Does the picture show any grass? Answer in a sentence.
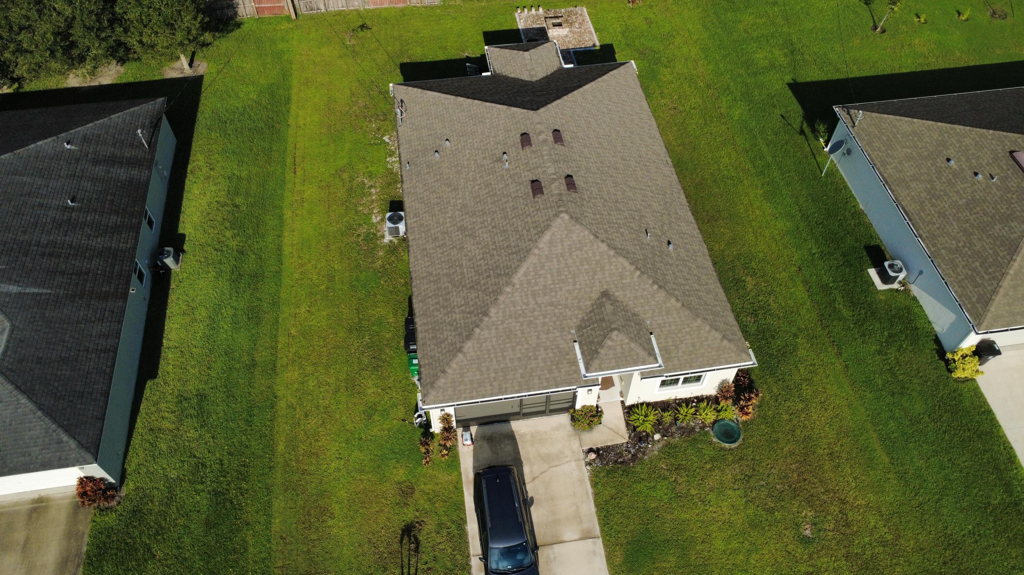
Yes, grass shows up in the scene.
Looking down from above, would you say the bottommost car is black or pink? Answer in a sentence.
The color of the bottommost car is black.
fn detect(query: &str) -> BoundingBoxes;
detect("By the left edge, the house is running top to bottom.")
[0,96,177,503]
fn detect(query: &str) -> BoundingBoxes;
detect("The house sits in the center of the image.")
[389,39,759,433]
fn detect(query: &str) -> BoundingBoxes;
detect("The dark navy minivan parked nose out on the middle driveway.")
[472,464,539,575]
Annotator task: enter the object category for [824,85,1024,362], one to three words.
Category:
house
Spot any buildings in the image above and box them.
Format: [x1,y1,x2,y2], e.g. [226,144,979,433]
[389,39,759,433]
[824,85,1024,362]
[0,96,177,503]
